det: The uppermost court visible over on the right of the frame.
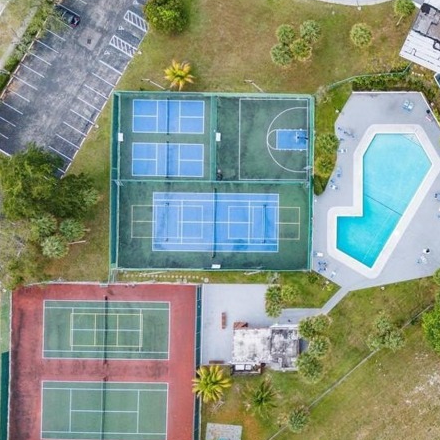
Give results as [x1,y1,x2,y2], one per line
[268,99,309,172]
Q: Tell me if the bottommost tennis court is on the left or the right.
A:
left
